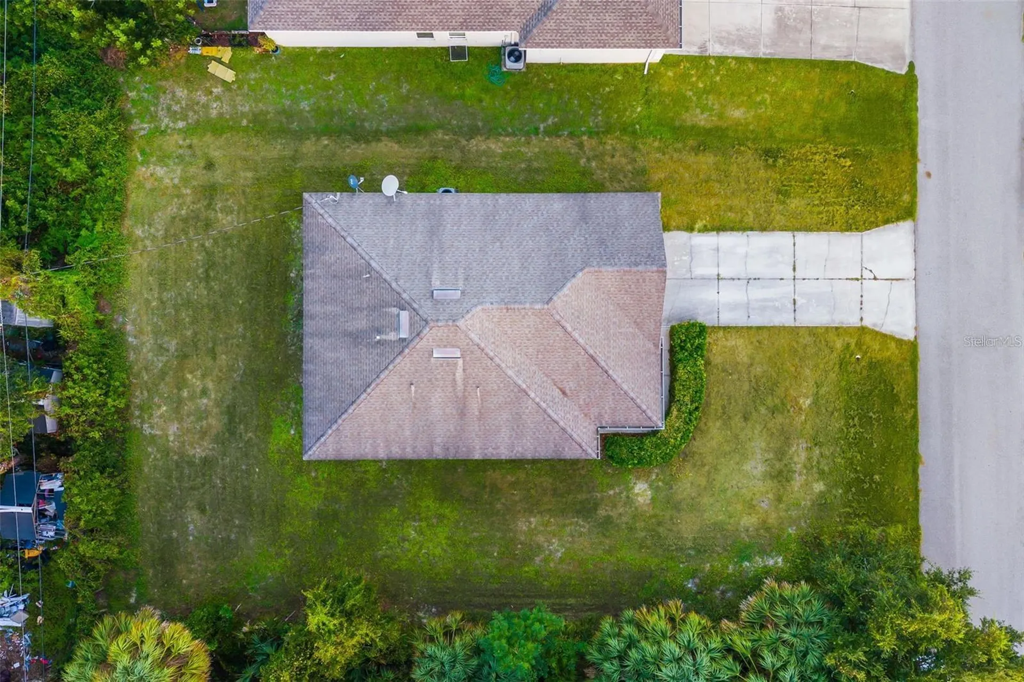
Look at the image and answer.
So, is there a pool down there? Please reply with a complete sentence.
No, there appears to be no pool in this shot.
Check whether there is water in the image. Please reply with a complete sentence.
No, water can't be seen anywhere here.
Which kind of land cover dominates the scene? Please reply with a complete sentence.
The largest share of the image is taken up by grass.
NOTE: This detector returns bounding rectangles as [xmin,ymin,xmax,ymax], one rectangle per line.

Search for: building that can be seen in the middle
[301,189,669,460]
